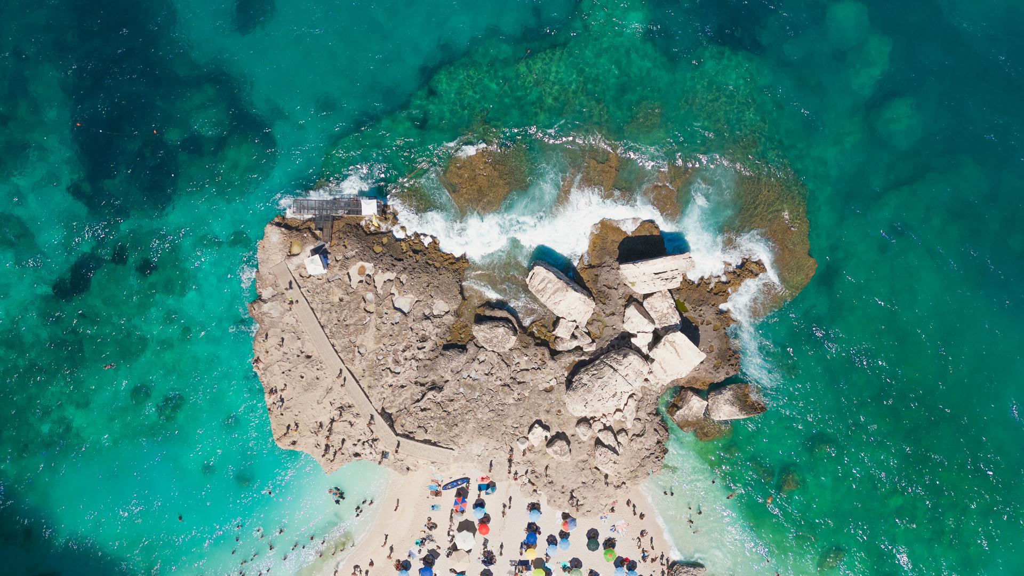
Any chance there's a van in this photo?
No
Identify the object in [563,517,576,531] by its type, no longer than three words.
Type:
umbrella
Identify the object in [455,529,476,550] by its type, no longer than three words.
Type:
umbrella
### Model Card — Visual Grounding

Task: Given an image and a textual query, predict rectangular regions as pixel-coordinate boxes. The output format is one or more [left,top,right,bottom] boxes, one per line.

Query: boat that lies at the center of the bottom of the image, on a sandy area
[442,478,471,491]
